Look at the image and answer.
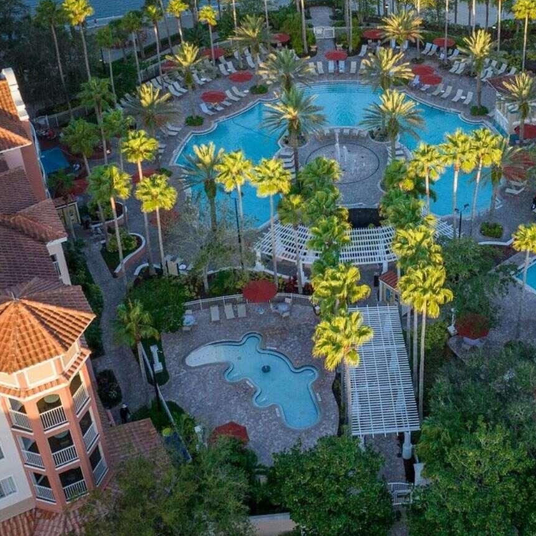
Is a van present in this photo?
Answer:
No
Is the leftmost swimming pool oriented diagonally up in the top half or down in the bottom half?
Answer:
bottom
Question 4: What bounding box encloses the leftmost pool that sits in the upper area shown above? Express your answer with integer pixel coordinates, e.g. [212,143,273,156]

[171,79,508,232]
